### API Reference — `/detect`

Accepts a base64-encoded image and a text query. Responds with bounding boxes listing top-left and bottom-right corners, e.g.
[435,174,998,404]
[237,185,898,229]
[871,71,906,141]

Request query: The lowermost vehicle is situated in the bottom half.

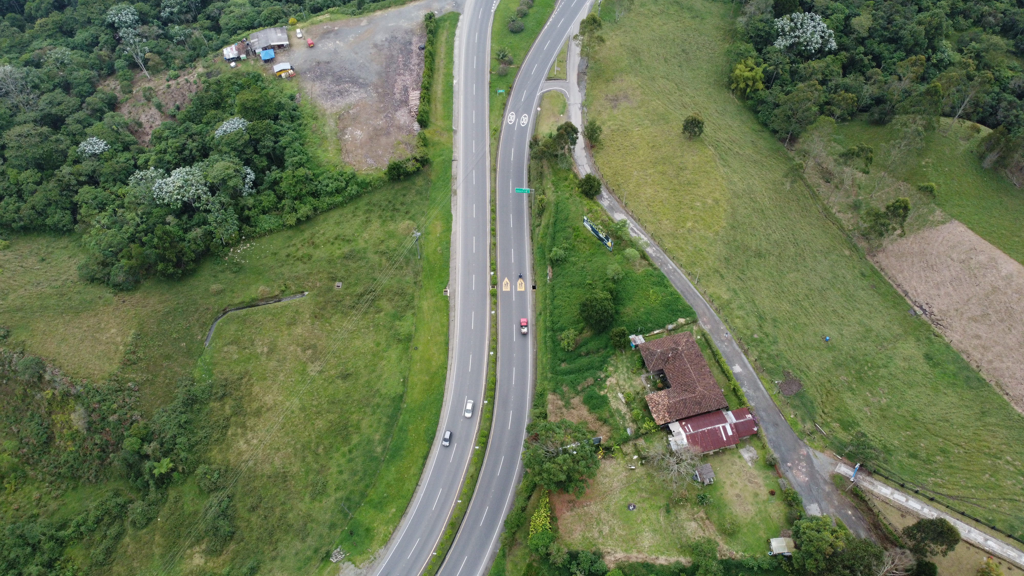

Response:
[441,430,453,448]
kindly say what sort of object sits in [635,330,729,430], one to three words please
house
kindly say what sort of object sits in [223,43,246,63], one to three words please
shed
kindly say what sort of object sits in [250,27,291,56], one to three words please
shed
